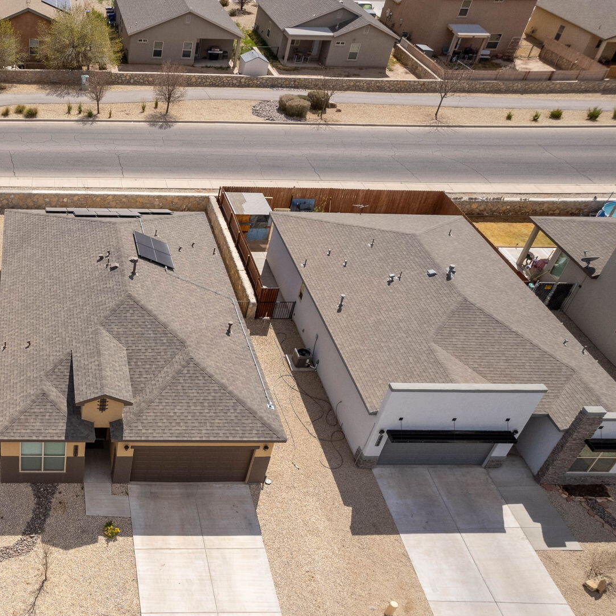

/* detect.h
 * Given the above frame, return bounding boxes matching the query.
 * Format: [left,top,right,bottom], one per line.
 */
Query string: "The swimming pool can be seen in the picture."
[594,202,616,216]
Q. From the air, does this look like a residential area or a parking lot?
residential area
